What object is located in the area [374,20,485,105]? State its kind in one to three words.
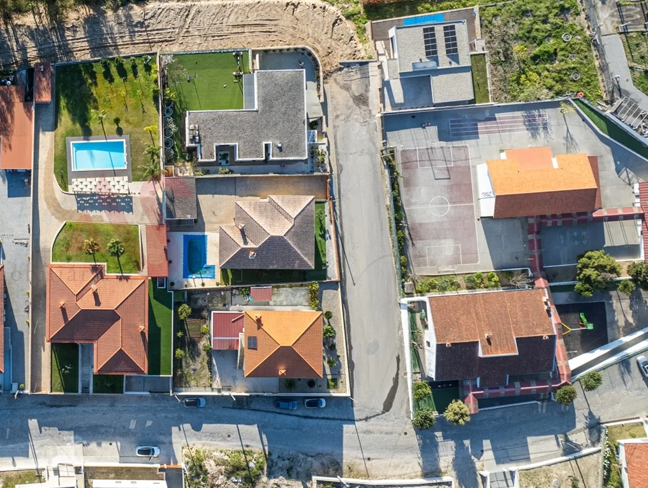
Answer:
house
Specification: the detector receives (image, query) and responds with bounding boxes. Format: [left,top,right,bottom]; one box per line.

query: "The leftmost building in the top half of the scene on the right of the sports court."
[471,147,600,219]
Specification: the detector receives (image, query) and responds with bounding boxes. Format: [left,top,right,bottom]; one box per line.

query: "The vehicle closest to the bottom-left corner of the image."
[135,445,159,458]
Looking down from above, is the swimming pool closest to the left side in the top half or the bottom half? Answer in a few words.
top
